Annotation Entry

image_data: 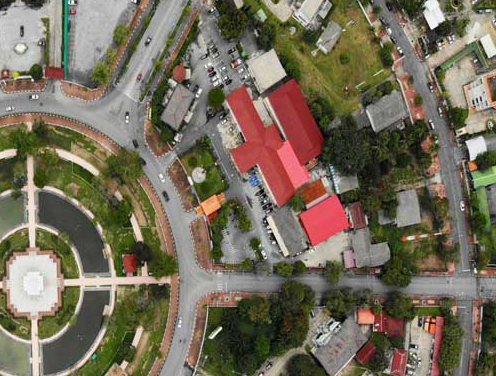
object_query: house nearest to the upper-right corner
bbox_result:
[476,34,496,61]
